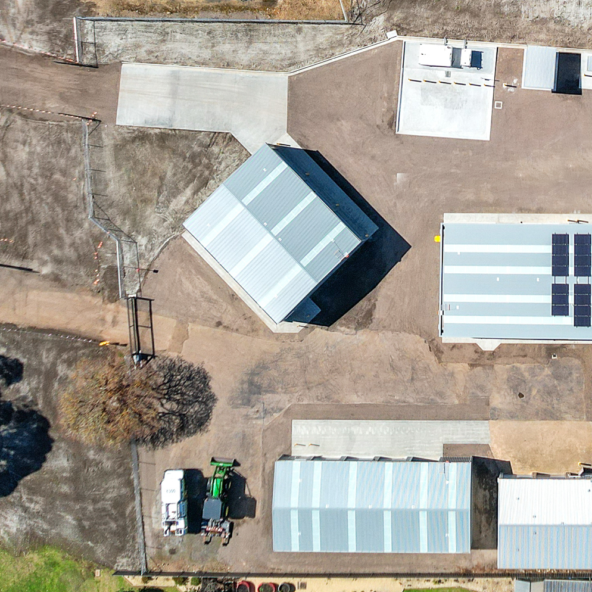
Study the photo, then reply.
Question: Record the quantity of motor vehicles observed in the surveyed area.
2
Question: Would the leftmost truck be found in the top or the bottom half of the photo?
bottom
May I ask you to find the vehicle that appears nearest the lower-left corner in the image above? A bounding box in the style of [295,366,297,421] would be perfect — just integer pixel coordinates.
[160,472,192,540]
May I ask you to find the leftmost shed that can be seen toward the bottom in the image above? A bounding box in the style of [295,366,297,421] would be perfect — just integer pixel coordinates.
[270,455,474,555]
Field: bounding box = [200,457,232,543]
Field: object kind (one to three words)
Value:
work vehicle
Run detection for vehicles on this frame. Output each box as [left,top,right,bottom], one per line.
[160,472,192,540]
[200,457,232,543]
